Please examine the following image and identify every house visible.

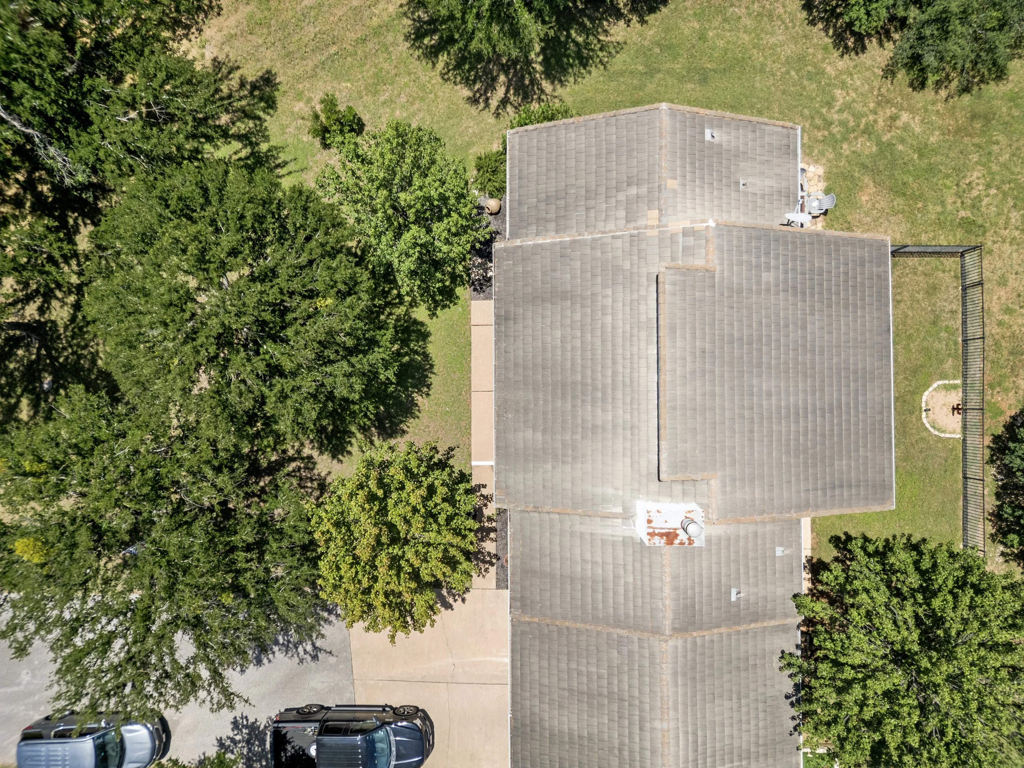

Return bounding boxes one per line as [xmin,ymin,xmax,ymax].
[492,103,896,768]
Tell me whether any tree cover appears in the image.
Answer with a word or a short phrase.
Yes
